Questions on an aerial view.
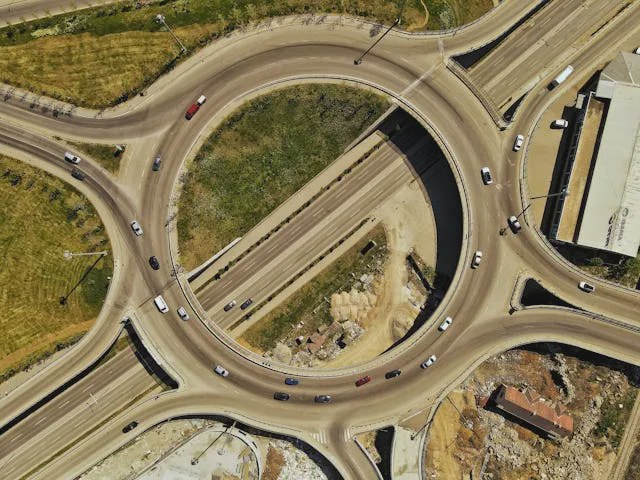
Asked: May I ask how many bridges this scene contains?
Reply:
2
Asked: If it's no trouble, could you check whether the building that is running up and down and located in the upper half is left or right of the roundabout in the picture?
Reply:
on the right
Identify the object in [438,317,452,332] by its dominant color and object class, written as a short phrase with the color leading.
white car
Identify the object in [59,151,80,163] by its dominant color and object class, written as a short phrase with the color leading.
white vehicle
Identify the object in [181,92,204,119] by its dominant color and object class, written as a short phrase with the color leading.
red truck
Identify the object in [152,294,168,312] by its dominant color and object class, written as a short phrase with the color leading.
white vehicle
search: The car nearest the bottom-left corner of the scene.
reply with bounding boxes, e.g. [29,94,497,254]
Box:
[121,421,137,433]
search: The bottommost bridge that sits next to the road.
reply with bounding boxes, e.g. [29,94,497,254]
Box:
[128,278,238,388]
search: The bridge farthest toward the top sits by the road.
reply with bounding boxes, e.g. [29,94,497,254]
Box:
[395,54,506,181]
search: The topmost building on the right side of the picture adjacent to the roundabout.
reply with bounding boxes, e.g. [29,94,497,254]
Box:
[544,51,640,262]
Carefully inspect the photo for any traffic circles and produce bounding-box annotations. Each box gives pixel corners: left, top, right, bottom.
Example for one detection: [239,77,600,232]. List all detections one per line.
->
[1,24,521,442]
